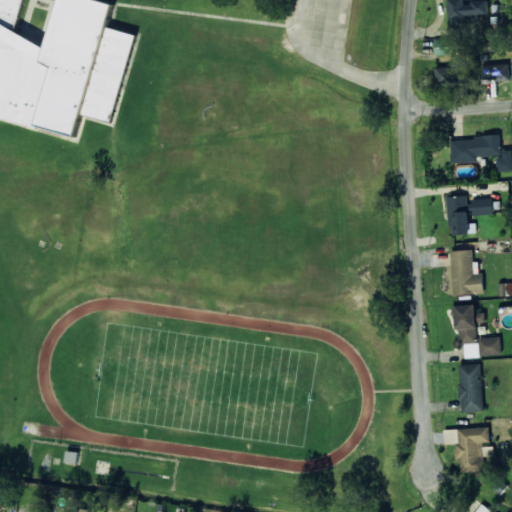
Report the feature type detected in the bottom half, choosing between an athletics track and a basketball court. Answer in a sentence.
You can see an athletics track in the bottom half.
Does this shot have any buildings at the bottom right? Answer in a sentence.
Yes, looking at the bottom right, one can make out a building.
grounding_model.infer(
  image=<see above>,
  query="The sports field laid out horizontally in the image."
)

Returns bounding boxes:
[96,322,317,447]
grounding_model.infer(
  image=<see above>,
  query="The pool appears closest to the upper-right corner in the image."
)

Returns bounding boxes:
[454,164,479,180]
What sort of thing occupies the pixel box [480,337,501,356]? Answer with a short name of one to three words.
building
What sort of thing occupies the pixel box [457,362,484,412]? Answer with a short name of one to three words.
house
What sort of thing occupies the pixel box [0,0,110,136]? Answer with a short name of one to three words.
building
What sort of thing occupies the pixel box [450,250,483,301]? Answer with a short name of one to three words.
house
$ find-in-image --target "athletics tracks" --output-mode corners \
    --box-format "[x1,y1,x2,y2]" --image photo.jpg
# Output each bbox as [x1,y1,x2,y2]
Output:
[38,297,375,473]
